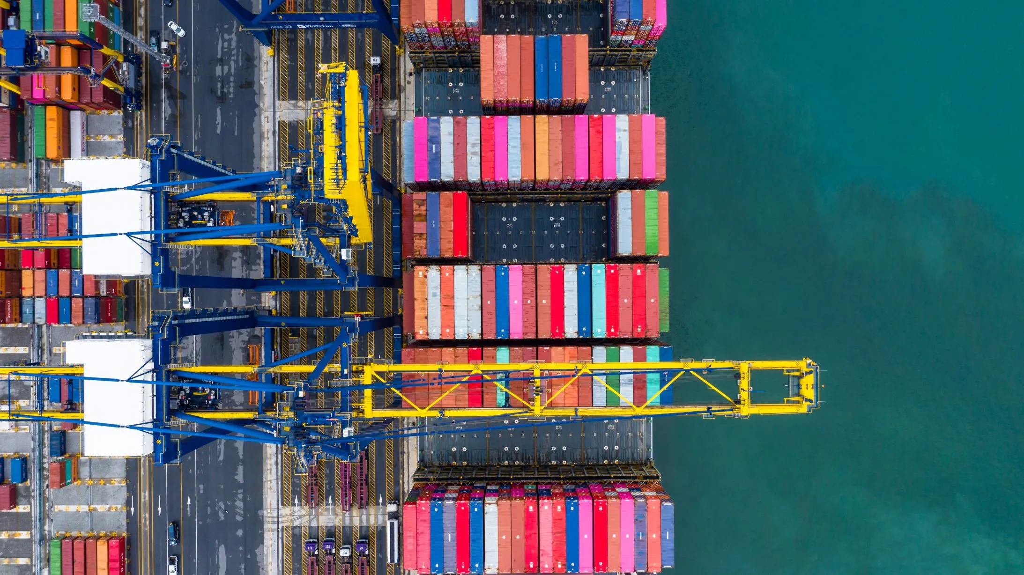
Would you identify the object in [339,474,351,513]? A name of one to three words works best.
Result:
vehicle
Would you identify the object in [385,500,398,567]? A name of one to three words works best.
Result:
vehicle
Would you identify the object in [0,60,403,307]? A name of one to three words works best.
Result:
container crane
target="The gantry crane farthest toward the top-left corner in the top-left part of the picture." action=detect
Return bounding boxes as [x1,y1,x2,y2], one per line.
[0,28,133,106]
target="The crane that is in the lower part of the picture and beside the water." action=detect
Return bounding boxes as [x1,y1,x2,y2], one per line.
[0,291,826,493]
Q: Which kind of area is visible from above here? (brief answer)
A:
port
